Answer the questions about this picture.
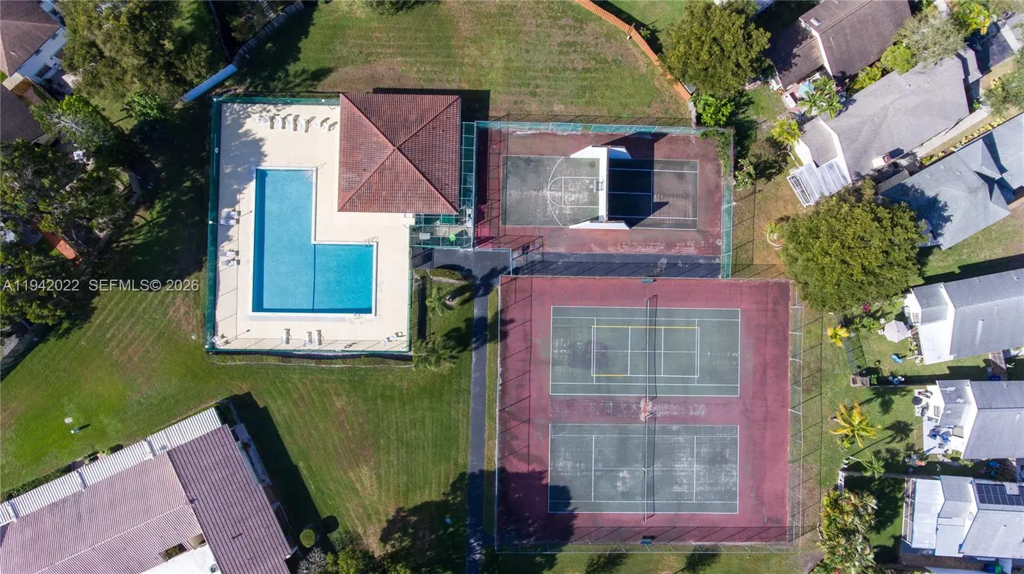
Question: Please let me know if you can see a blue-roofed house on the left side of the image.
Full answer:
No, no blue-roofed house appears on the left side of the image.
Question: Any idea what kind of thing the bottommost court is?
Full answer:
The bottommost court is a tennis court.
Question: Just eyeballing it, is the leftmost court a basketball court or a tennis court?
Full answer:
It looks like the leftmost court is a basketball court.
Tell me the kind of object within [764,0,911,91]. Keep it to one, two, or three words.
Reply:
house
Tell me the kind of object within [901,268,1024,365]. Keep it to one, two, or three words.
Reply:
house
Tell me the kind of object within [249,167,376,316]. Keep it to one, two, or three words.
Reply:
swimming pool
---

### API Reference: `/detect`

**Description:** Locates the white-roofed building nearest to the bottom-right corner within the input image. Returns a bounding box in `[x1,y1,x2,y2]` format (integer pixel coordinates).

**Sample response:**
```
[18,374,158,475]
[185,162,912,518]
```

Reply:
[900,473,1024,558]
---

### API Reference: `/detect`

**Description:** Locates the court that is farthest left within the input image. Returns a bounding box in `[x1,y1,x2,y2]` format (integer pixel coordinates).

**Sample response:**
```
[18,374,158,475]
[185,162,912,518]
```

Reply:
[476,129,601,251]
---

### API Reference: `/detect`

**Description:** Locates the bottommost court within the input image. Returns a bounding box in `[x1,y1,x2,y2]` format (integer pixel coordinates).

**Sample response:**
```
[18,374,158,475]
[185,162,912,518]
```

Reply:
[498,410,790,543]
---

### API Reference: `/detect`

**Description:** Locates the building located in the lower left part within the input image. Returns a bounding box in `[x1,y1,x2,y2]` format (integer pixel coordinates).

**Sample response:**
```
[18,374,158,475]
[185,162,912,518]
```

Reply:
[0,404,301,574]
